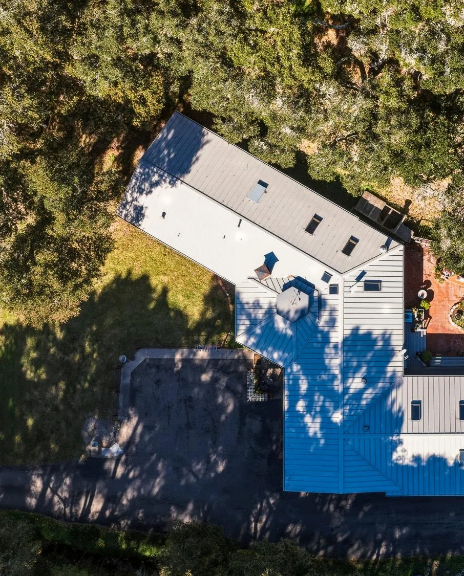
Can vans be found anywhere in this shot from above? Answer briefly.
No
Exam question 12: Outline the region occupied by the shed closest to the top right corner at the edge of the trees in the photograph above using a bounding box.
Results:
[354,190,413,242]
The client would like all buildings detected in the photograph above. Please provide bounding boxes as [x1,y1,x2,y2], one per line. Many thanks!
[354,190,413,242]
[118,111,464,497]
